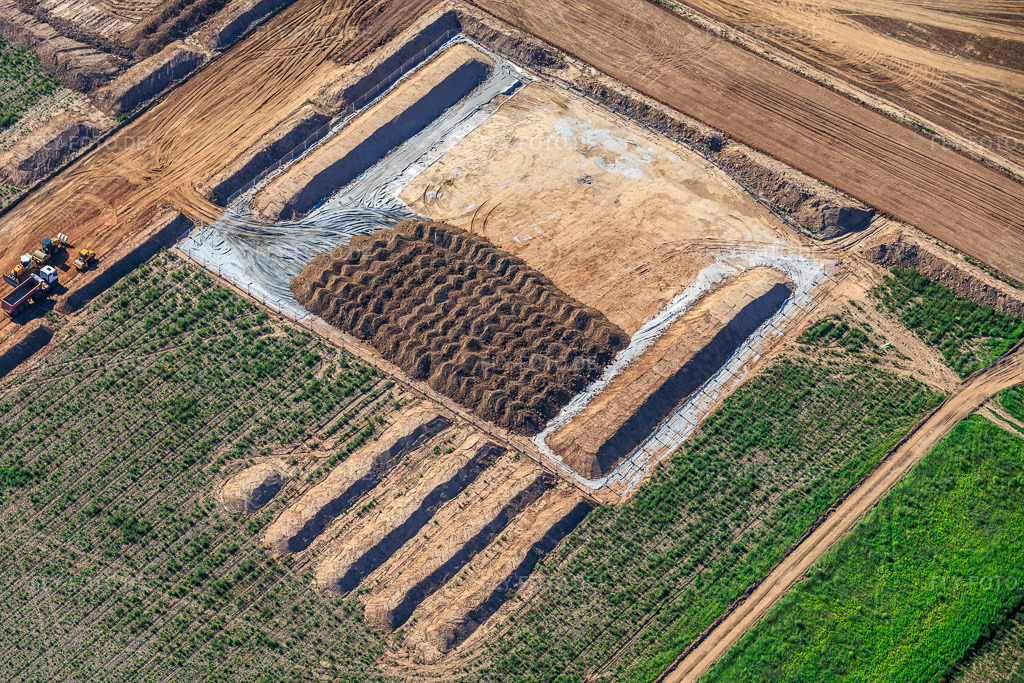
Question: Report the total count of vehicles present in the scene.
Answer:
four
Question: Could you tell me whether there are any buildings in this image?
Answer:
No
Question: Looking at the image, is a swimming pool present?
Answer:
No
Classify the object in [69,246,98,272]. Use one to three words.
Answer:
work vehicle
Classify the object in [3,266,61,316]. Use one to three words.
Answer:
truck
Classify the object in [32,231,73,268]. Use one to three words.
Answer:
work vehicle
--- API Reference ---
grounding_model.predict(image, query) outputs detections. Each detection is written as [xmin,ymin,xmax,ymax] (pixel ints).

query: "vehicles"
[69,246,98,272]
[32,231,73,268]
[2,252,42,288]
[3,266,61,316]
